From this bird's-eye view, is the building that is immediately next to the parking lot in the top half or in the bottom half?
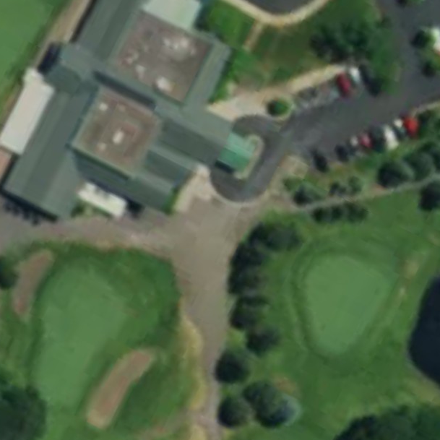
top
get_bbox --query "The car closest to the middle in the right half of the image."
[313,150,327,170]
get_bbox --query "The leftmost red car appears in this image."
[336,72,351,94]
